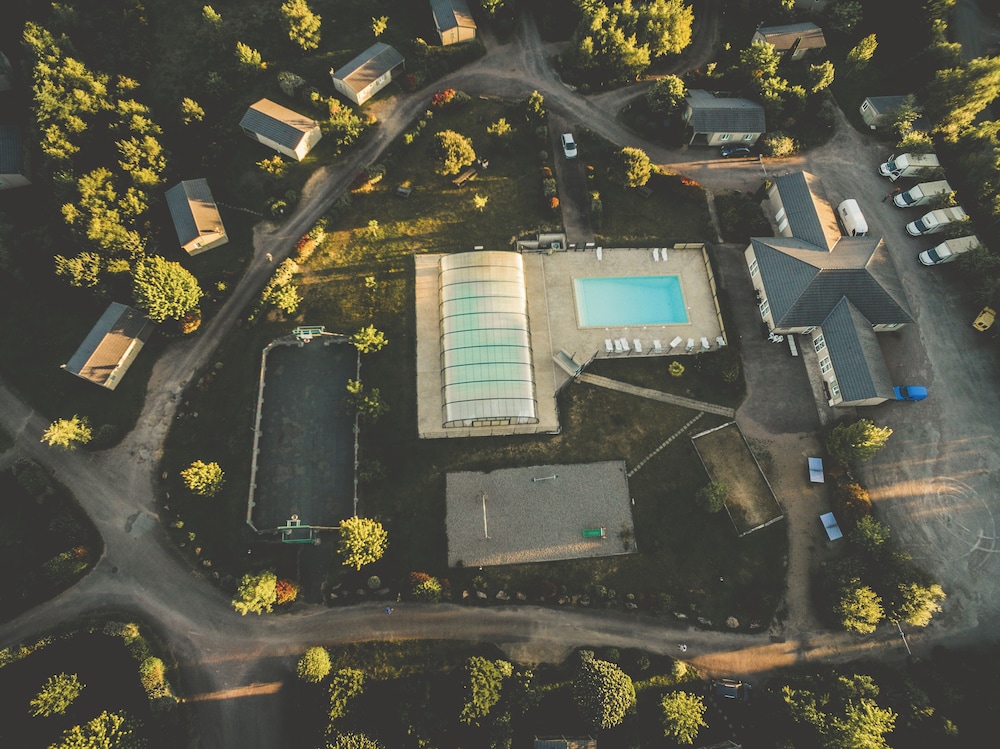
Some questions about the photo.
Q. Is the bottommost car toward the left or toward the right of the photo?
right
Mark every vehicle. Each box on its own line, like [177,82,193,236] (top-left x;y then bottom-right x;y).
[833,197,869,235]
[902,203,974,238]
[915,231,986,269]
[561,131,579,161]
[720,144,752,160]
[707,678,754,705]
[876,150,944,185]
[970,306,996,335]
[890,177,959,210]
[890,385,931,403]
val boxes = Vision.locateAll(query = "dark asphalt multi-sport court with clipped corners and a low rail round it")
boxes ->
[250,343,359,530]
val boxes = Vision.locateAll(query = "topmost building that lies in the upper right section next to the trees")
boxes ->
[758,21,828,65]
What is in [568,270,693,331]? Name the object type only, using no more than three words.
swimming pool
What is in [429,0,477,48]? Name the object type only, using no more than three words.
building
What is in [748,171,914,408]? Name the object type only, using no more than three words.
building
